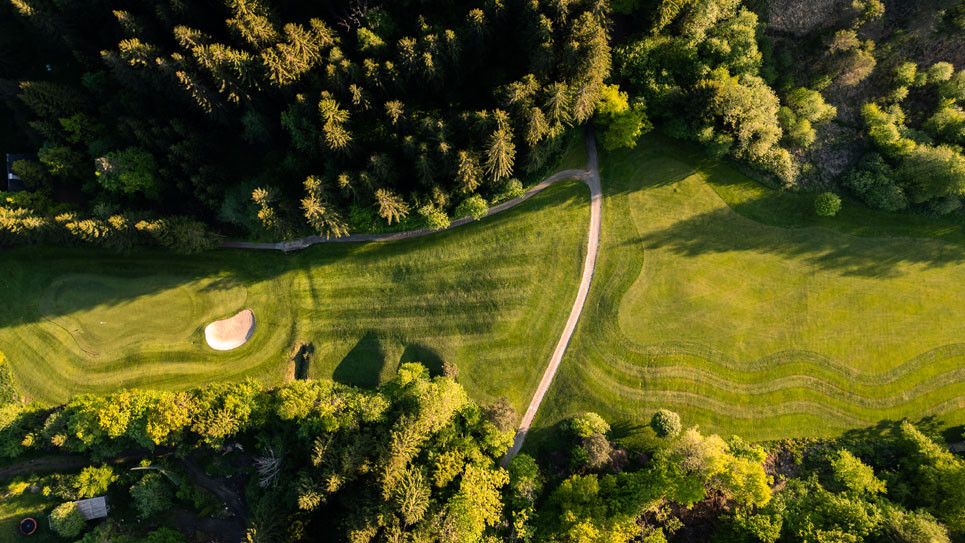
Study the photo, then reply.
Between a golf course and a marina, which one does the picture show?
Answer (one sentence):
What you see here is a golf course.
